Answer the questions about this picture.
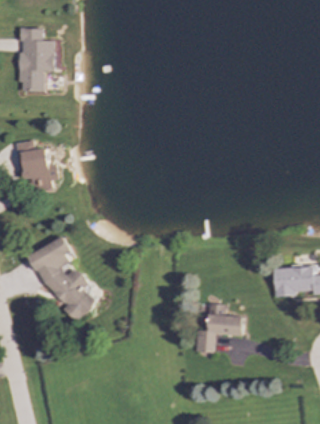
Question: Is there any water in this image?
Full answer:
Yes, the picture does contain water.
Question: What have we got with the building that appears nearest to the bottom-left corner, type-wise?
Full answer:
I'd say the building that appears nearest to the bottom-left corner is a home.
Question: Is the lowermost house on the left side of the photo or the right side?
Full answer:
The lowermost house is on the right side of the image.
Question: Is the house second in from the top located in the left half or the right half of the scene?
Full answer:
It is on the left.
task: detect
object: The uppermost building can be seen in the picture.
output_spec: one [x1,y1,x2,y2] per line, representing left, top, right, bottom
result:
[14,28,62,94]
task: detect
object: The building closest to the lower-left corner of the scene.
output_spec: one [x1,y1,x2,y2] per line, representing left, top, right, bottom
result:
[30,237,100,320]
